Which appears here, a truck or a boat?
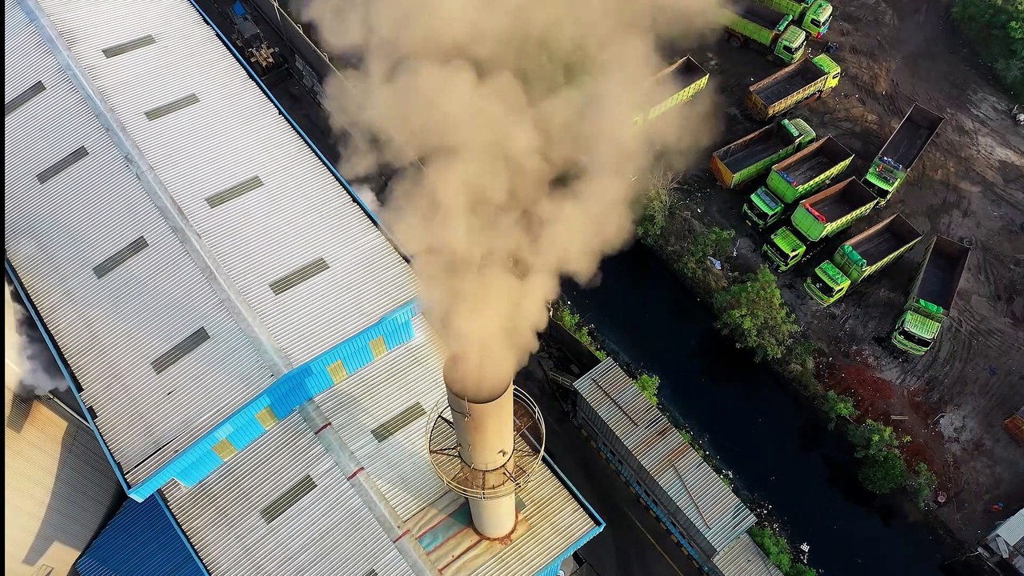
truck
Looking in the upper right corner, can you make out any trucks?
Yes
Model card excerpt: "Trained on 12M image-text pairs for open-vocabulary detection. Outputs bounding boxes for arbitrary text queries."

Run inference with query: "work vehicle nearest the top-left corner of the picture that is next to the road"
[227,9,296,84]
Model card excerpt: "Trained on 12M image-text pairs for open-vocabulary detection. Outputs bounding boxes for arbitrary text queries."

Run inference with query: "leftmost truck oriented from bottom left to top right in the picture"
[609,55,709,137]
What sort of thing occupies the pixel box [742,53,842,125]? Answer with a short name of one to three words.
truck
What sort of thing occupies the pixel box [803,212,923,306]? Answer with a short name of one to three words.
truck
